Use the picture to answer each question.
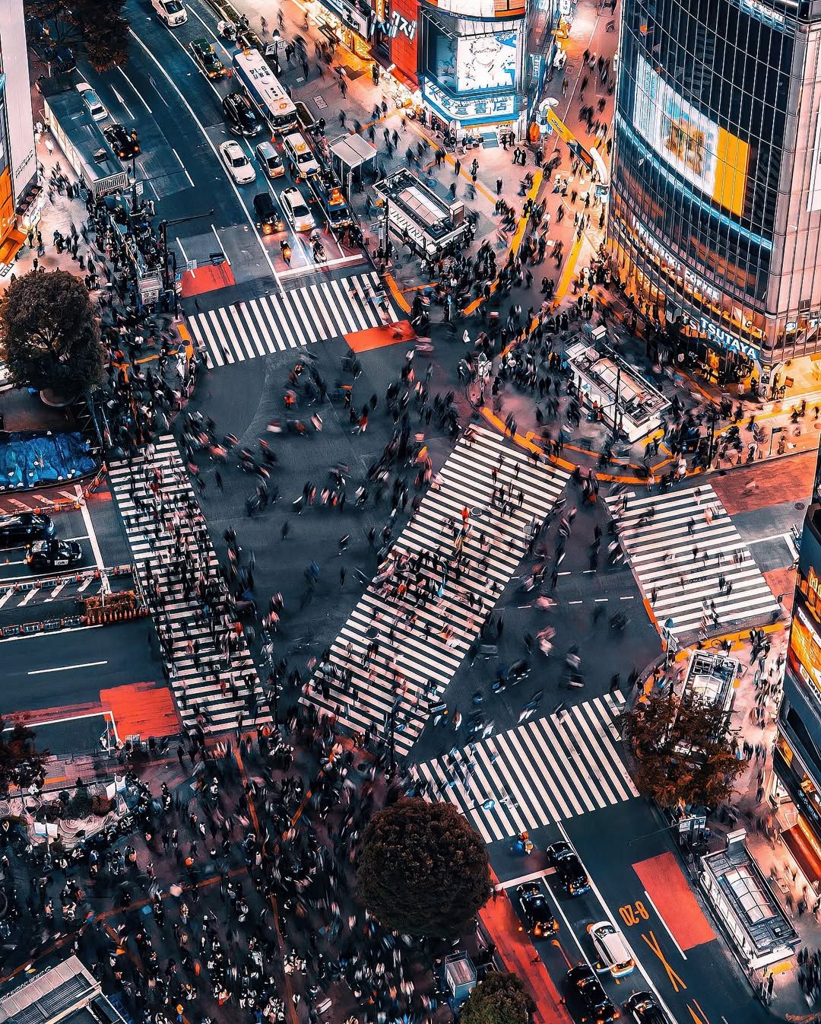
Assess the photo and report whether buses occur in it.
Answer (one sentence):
Yes, there's a bus here.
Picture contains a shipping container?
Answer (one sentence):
No, this view has no shipping container in it.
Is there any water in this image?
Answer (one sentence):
No, water can't be seen anywhere here.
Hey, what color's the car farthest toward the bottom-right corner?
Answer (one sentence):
The car farthest toward the bottom-right corner looks black in the image.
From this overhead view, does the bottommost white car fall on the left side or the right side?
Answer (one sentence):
It is on the right.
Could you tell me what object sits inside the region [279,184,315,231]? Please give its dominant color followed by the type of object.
white car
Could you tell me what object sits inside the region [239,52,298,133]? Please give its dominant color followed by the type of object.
white bus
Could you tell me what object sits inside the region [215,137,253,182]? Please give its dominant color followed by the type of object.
white car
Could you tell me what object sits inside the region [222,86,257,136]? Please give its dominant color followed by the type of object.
black car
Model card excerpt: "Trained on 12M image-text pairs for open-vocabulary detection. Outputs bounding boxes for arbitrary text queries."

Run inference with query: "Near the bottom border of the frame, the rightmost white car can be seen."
[592,918,637,979]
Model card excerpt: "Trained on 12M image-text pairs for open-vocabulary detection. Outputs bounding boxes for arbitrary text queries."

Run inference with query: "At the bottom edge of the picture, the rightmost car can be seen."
[631,983,673,1024]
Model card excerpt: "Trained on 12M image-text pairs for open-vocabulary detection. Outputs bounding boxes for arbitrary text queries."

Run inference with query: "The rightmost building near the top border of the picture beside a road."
[604,0,821,406]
